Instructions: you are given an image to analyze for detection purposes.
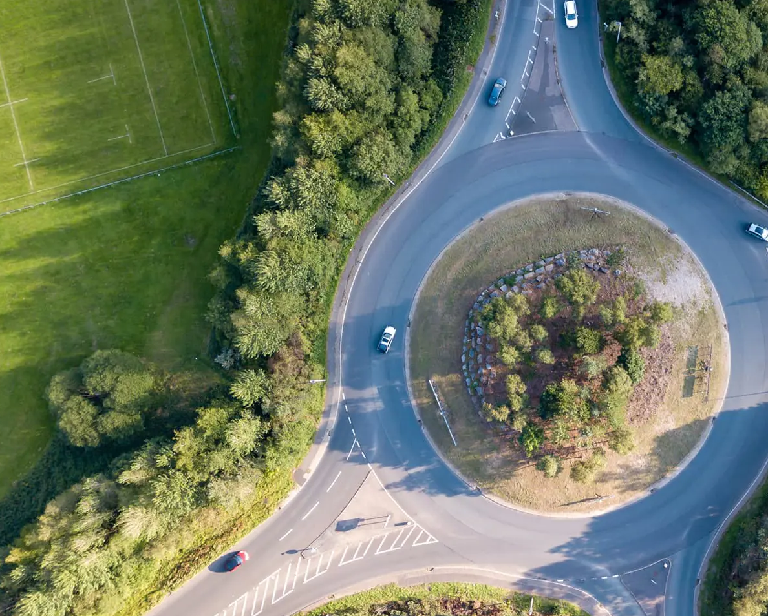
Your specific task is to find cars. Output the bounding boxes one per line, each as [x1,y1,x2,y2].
[376,325,397,354]
[744,221,768,242]
[222,548,249,573]
[564,0,579,30]
[485,78,509,108]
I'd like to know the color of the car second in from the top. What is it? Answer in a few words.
blue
